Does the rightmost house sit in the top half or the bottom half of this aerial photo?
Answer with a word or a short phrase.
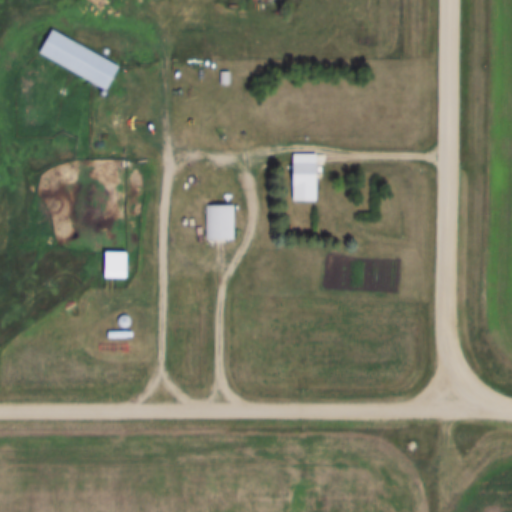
top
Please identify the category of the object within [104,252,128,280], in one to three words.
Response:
shed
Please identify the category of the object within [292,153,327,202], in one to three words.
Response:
house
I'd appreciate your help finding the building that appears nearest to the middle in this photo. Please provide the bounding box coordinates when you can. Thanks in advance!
[206,204,236,246]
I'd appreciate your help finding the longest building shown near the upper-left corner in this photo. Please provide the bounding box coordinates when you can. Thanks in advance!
[39,28,120,90]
